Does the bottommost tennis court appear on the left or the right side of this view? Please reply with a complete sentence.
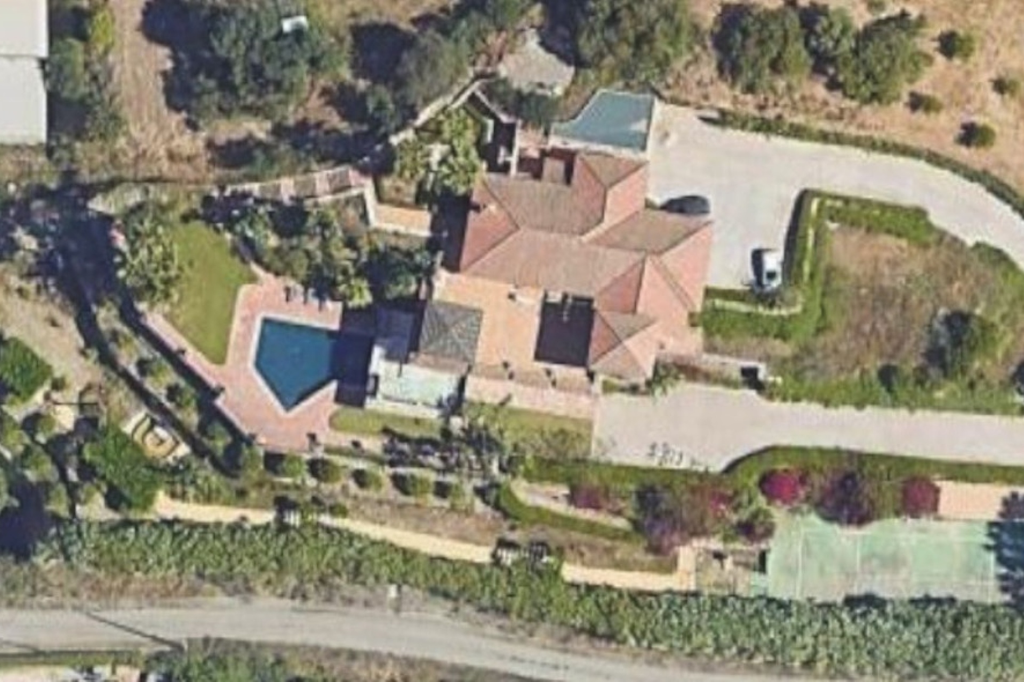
You can find the bottommost tennis court on the right side of the picture.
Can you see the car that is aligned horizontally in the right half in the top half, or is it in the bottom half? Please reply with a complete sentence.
Seen from above, the car that is aligned horizontally in the right half lies in the top half of the view.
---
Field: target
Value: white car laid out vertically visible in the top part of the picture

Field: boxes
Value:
[763,248,782,292]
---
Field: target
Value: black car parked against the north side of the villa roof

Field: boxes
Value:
[665,195,712,216]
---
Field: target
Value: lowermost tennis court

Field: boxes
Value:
[765,514,1024,603]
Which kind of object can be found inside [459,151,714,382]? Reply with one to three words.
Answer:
house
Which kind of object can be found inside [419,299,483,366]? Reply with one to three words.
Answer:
building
